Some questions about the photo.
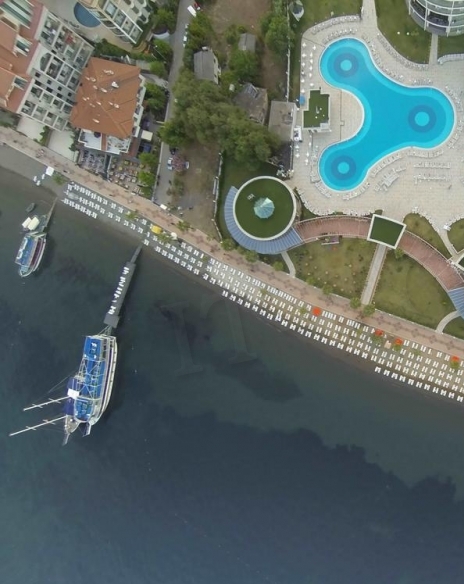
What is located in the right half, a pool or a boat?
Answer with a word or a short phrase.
pool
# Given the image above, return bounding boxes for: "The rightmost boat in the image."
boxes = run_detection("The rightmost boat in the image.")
[75,325,123,444]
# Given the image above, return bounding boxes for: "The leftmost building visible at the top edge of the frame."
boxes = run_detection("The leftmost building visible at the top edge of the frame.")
[0,0,94,135]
